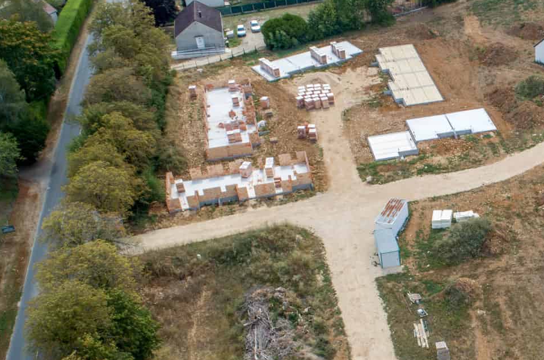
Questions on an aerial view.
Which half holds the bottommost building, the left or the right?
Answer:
right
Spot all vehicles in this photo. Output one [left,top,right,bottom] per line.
[235,23,246,35]
[249,18,261,30]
